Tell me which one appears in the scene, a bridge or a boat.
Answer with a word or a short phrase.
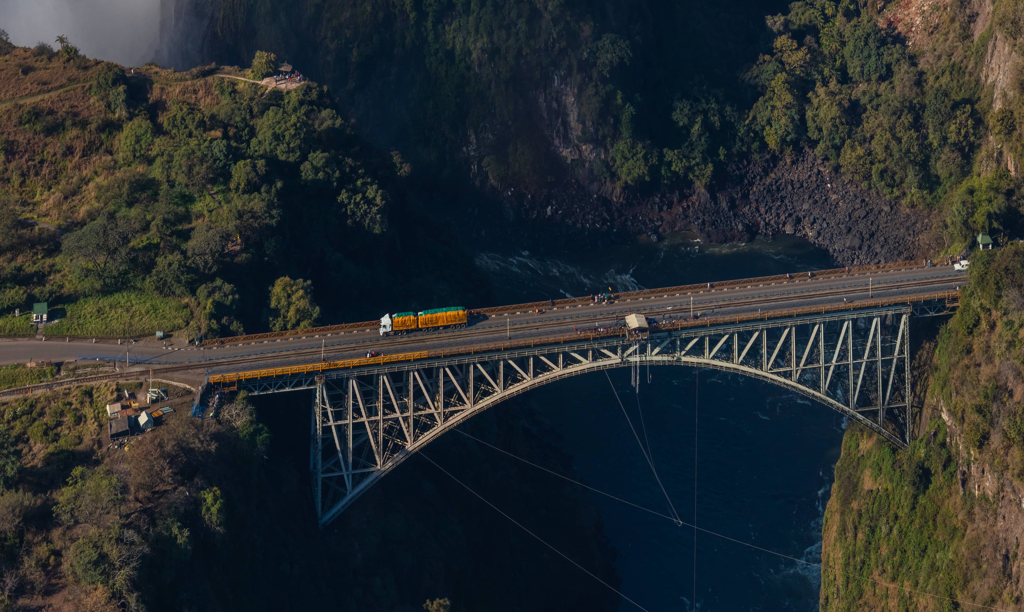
bridge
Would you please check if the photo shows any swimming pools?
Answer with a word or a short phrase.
No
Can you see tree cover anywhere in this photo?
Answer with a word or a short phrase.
Yes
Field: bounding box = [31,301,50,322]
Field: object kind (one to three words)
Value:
shed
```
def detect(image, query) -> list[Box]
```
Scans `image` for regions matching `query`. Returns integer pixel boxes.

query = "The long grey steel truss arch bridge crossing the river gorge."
[193,253,988,529]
